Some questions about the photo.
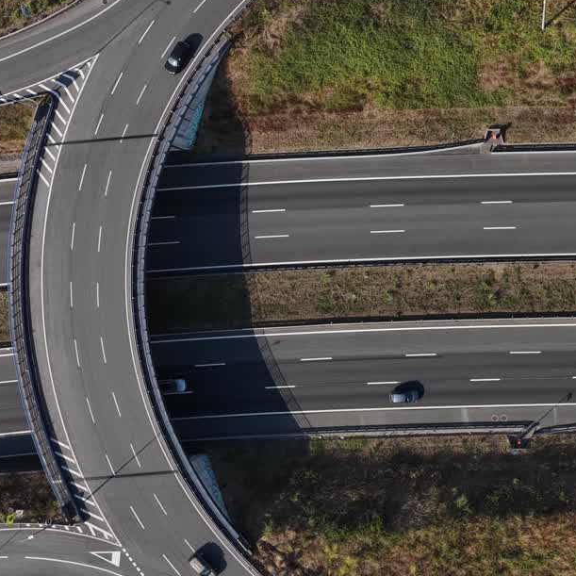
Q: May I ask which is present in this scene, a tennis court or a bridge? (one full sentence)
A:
Visible in the photo is a bridge.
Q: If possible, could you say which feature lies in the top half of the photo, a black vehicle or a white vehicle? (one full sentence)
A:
You can see a black vehicle in the top half of the photo.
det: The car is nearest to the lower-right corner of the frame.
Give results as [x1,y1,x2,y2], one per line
[390,390,422,404]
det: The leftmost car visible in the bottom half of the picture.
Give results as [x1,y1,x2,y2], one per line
[161,378,188,392]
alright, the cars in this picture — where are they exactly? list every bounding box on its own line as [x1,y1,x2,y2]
[161,378,188,392]
[166,40,192,72]
[390,390,422,404]
[188,554,217,576]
